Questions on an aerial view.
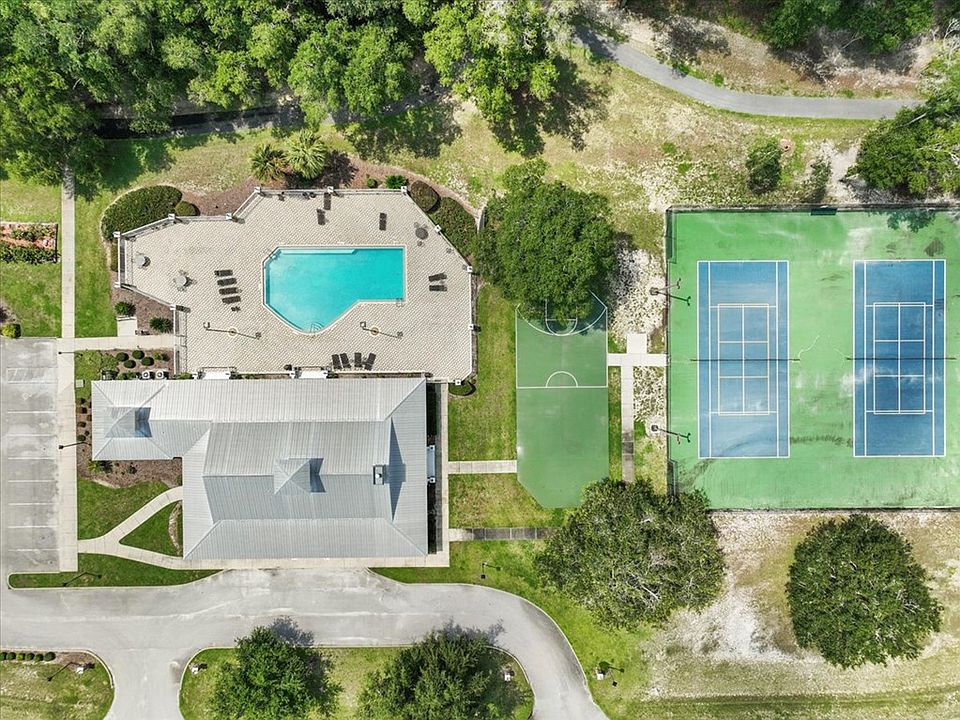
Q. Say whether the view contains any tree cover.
Yes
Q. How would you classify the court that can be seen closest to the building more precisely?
basketball court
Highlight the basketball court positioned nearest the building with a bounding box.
[516,291,609,508]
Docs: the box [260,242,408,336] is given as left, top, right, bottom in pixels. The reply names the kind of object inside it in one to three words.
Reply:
swimming pool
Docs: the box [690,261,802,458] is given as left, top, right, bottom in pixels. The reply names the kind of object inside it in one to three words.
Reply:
tennis court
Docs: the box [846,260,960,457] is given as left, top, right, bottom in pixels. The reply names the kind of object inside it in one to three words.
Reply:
tennis court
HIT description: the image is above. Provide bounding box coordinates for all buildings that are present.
[91,377,427,560]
